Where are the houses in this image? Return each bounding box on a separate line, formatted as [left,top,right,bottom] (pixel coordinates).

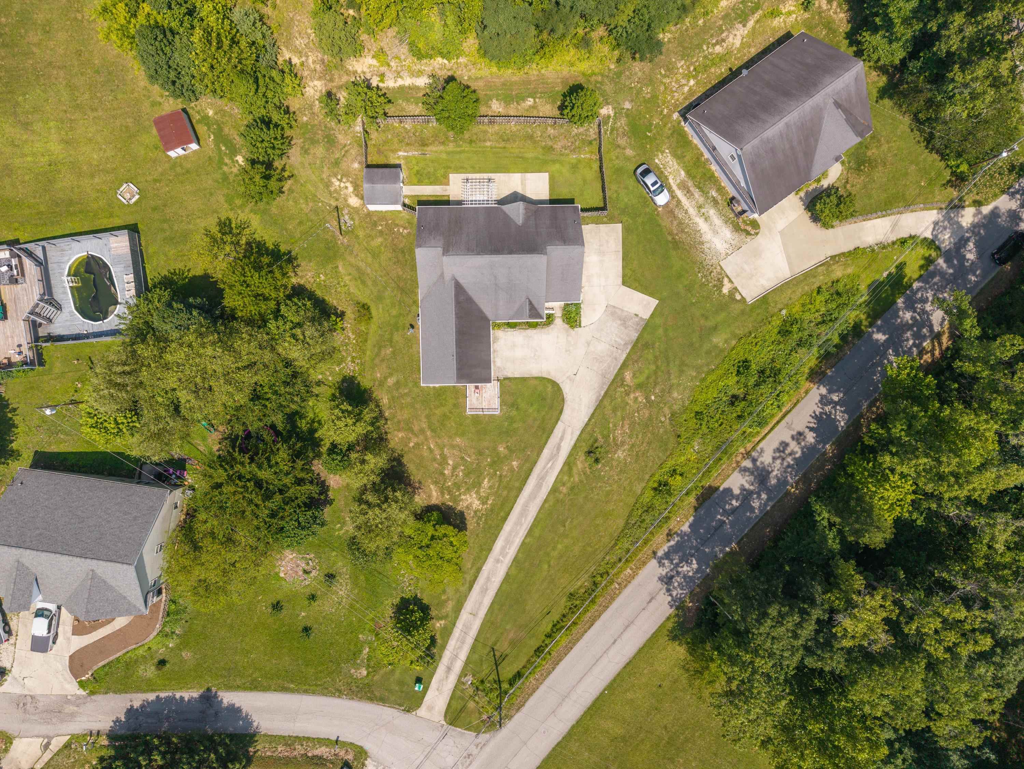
[0,468,181,621]
[686,30,874,217]
[415,201,584,386]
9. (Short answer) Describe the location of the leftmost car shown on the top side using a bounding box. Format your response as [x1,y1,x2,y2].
[634,164,669,210]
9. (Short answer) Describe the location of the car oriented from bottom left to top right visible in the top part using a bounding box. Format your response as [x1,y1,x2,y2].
[989,225,1024,267]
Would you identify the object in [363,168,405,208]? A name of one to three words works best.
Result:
shed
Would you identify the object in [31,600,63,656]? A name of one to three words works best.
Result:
truck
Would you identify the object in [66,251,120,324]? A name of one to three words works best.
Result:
swimming pool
